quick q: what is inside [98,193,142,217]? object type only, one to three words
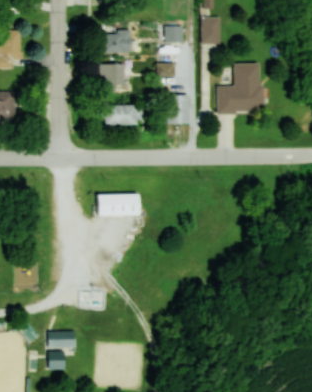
barn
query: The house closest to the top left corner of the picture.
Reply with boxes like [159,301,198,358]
[0,30,24,70]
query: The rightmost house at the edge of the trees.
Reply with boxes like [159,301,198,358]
[218,62,264,112]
